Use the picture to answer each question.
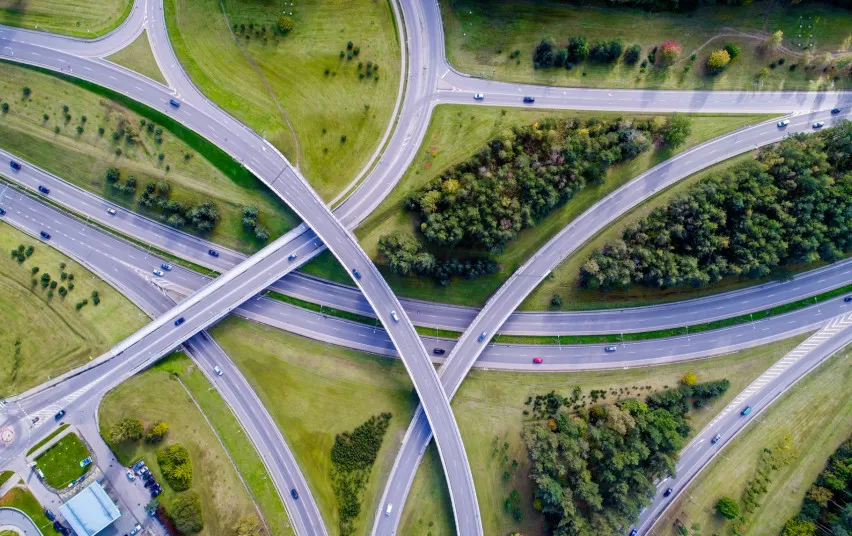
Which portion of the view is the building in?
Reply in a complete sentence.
Look in the bottom left portion of the view to spot the building.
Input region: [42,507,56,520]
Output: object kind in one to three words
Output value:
vehicle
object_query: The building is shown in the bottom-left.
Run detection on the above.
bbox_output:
[58,479,123,536]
